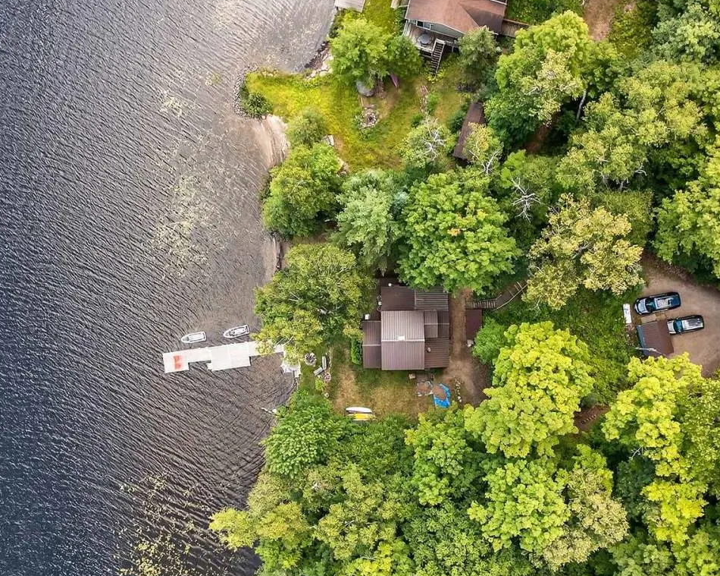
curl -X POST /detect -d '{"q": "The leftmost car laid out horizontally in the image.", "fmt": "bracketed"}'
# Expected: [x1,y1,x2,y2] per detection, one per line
[632,293,681,314]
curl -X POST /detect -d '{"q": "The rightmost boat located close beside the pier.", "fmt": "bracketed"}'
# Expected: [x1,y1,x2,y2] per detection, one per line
[224,324,251,337]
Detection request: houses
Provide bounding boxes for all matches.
[364,274,450,370]
[400,0,507,75]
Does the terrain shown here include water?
Yes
